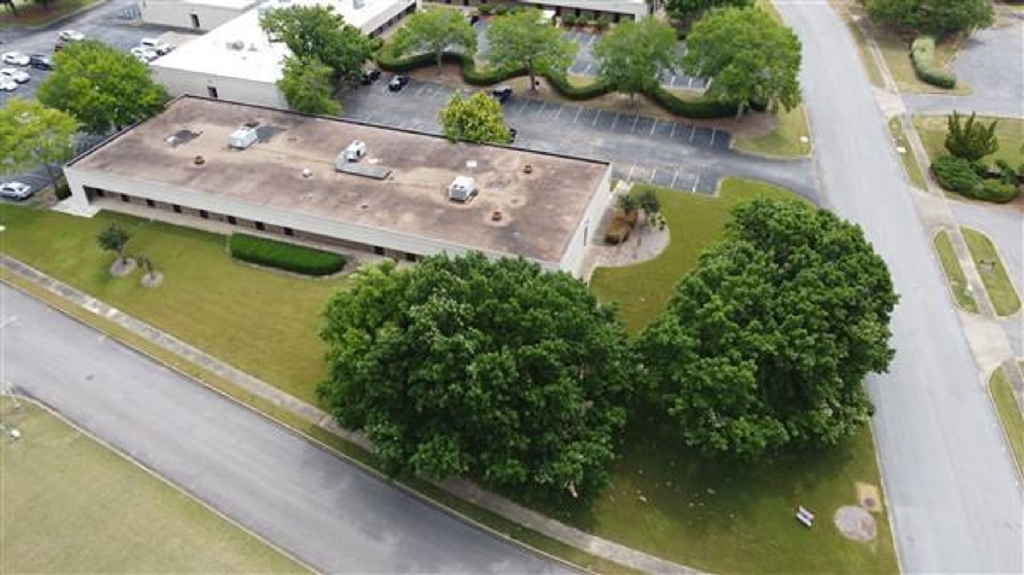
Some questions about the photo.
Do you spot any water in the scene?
No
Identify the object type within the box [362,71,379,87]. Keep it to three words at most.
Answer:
car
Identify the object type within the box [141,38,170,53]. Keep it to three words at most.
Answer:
car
